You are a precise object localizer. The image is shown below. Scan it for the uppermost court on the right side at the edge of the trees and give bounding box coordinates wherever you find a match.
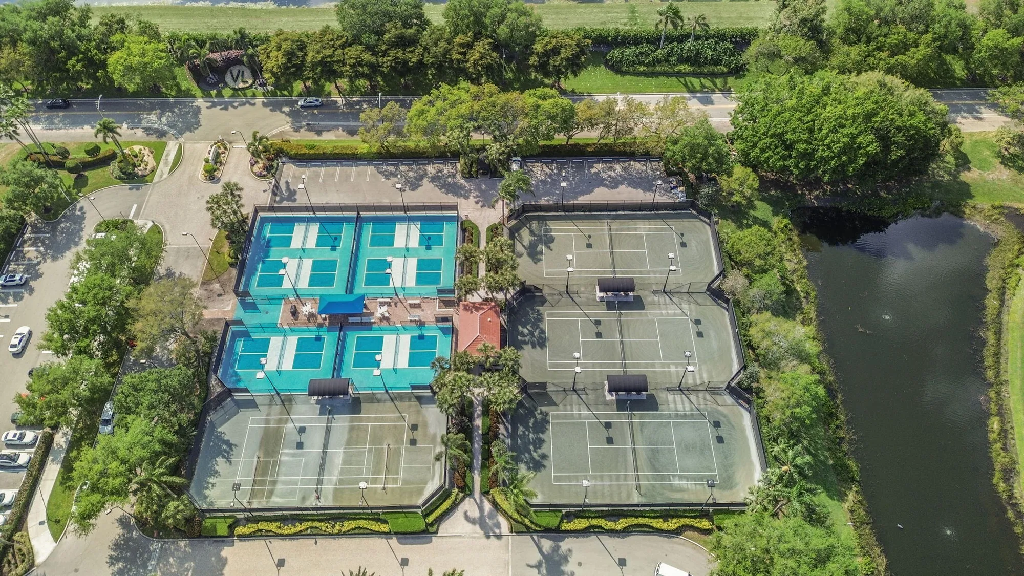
[512,212,722,291]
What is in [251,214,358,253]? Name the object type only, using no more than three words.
sports court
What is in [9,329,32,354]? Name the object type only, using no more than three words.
car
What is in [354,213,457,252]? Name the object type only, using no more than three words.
sports court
